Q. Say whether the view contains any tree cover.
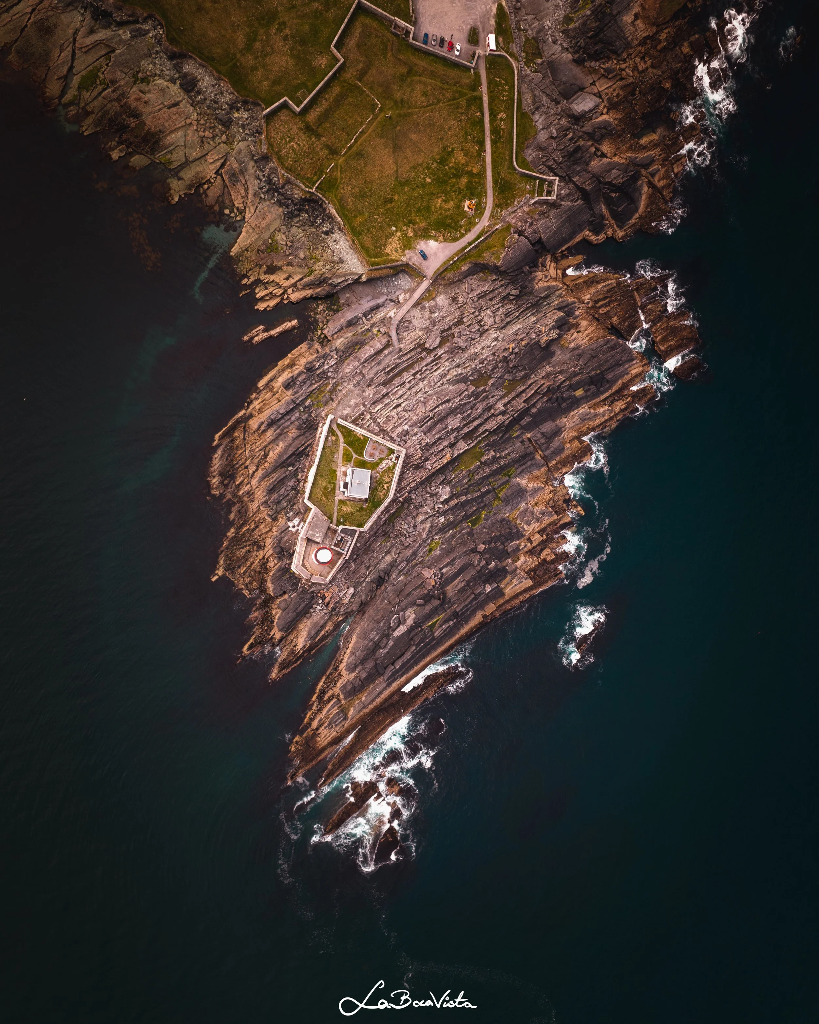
No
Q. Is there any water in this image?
Yes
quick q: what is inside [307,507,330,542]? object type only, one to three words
building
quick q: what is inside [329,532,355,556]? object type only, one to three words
building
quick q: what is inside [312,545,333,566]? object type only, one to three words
lighthouse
